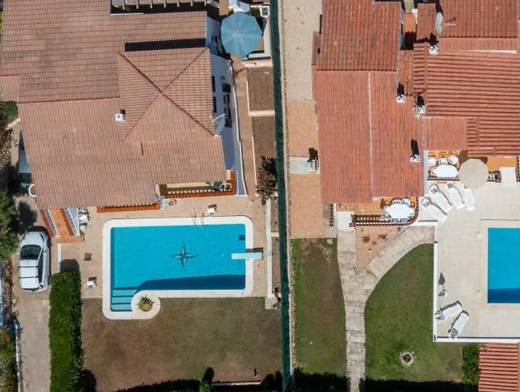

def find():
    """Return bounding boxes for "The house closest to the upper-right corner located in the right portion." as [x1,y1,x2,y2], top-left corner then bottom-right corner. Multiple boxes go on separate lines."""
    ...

[311,0,520,231]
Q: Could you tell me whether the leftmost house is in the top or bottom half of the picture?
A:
top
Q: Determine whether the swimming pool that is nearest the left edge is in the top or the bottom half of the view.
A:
bottom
